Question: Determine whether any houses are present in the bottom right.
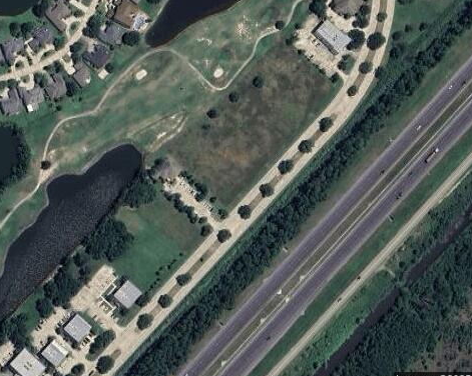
No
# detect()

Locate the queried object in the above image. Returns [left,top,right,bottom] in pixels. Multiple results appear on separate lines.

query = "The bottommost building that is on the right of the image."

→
[310,20,350,57]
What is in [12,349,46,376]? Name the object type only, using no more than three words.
building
